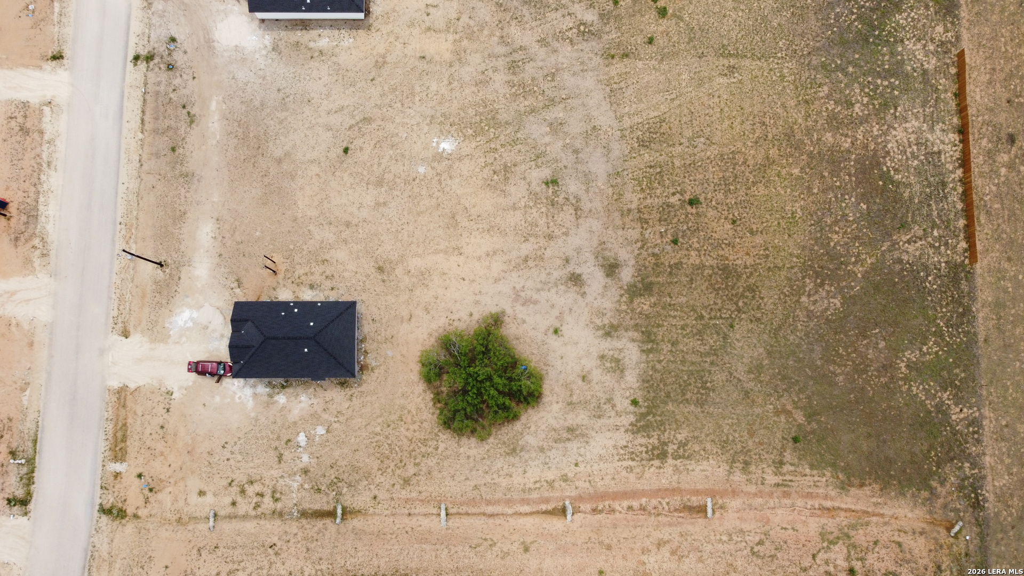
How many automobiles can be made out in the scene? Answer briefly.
1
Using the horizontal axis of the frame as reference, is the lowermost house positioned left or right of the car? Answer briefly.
to the right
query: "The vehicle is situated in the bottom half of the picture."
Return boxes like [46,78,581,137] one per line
[182,359,232,384]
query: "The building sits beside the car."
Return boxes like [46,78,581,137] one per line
[228,301,358,381]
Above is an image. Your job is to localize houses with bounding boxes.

[248,0,365,20]
[228,301,358,381]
